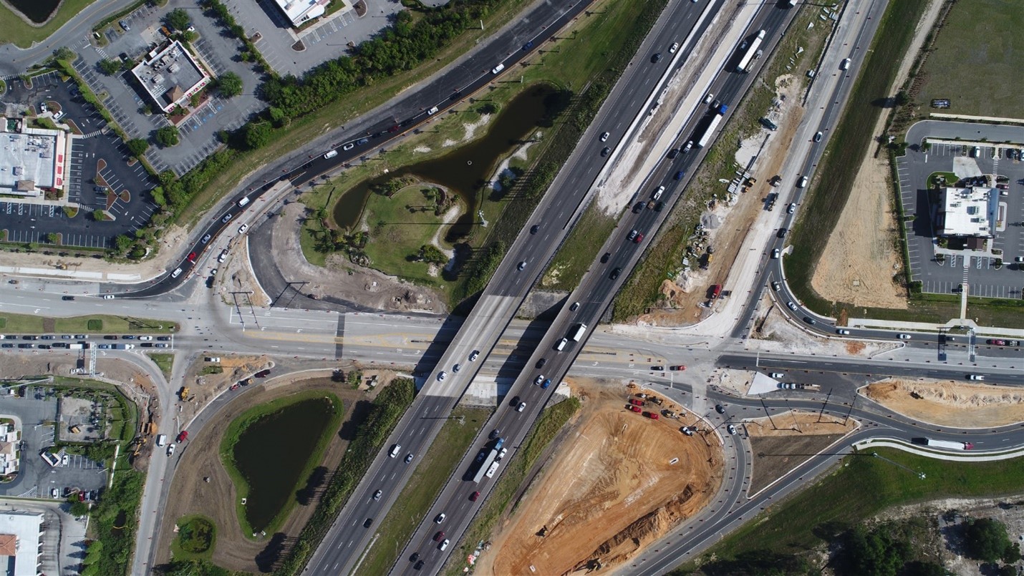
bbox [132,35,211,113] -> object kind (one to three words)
building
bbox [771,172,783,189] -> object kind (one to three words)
vehicle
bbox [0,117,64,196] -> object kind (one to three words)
building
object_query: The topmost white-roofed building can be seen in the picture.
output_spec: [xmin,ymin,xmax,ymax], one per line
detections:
[276,0,335,29]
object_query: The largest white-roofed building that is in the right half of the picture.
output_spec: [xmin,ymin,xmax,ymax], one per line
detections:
[934,174,999,249]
